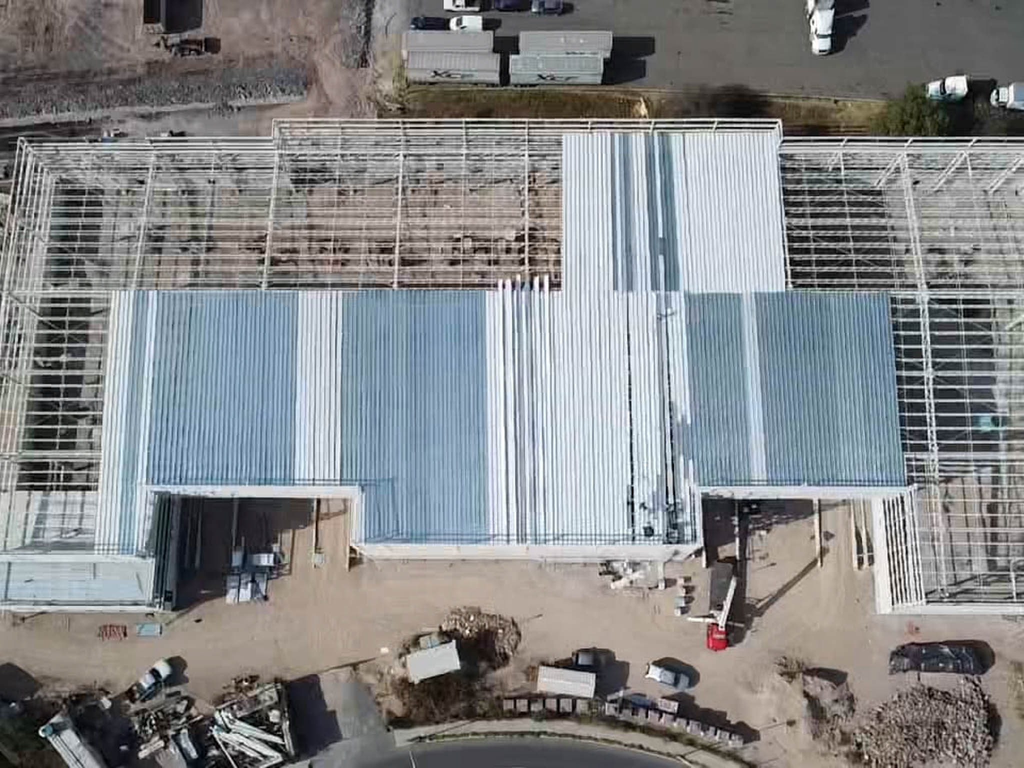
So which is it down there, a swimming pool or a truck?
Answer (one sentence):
The one in the frame is a truck.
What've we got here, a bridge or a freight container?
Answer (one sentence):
This aerial view contains a freight container.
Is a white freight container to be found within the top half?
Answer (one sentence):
No, there's no white freight container to be seen within the top half.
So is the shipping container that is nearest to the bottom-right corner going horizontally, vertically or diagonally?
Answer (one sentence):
The shipping container that is nearest to the bottom-right corner runs horizontally in the image.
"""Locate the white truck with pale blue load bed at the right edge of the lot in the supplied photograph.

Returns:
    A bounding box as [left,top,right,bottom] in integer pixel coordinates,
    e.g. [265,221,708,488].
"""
[992,83,1024,108]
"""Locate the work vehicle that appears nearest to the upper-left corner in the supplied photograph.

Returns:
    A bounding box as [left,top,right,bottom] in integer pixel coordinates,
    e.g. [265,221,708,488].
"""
[155,36,207,60]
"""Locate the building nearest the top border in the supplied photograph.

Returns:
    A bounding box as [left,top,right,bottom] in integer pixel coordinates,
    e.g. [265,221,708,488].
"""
[0,118,1024,615]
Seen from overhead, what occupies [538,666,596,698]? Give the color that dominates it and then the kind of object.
white shipping container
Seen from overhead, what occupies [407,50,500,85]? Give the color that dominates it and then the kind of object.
gray trailer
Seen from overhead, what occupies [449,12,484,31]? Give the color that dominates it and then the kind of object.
white vehicle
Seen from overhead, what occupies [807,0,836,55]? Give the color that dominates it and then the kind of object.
white truck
